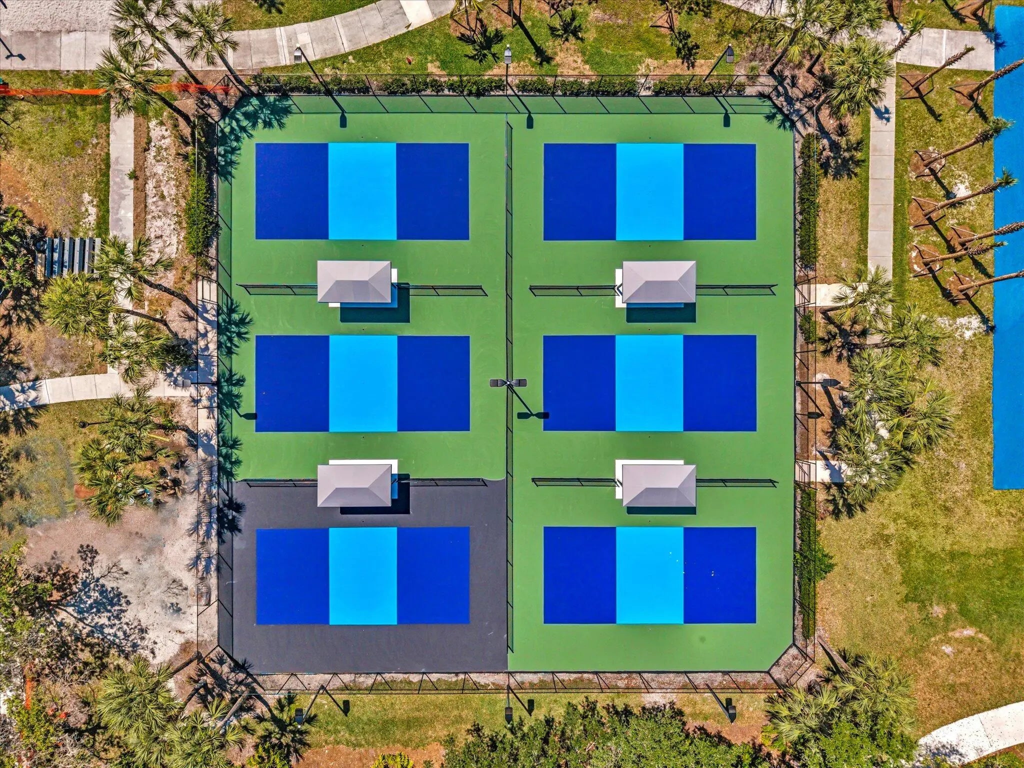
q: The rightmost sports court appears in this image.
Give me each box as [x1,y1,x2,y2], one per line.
[992,6,1024,489]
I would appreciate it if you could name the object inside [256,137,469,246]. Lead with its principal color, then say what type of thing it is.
blue sports court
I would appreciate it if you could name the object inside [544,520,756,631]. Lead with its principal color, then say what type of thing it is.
blue sports court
